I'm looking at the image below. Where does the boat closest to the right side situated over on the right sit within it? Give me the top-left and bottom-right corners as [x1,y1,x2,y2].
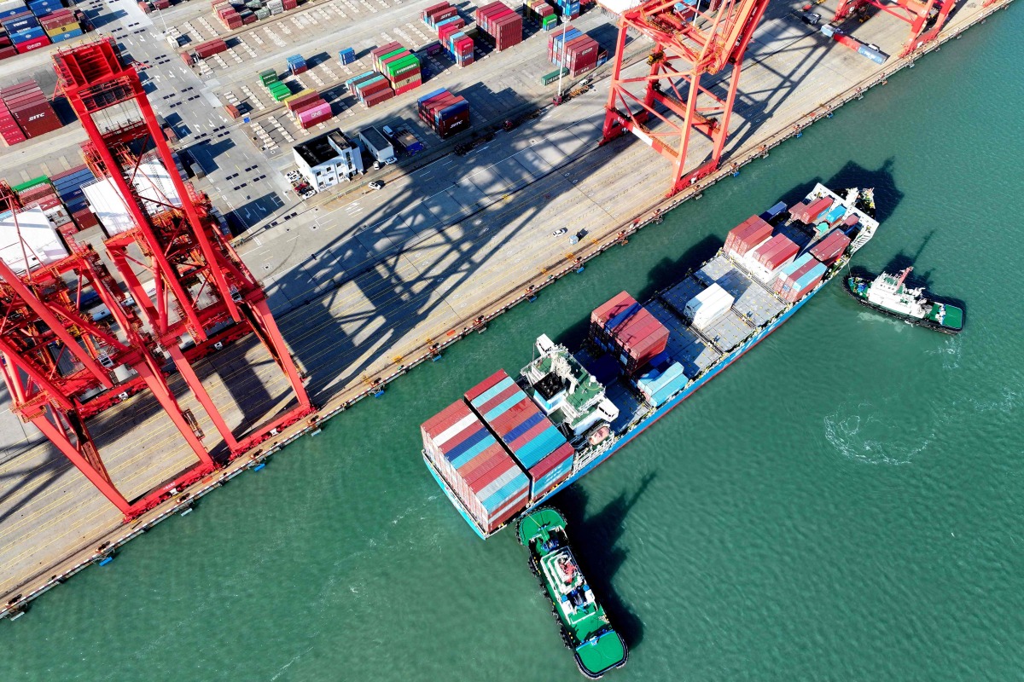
[842,259,968,337]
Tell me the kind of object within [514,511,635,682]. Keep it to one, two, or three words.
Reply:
boat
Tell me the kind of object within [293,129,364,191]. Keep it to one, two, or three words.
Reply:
building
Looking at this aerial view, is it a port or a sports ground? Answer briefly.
port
